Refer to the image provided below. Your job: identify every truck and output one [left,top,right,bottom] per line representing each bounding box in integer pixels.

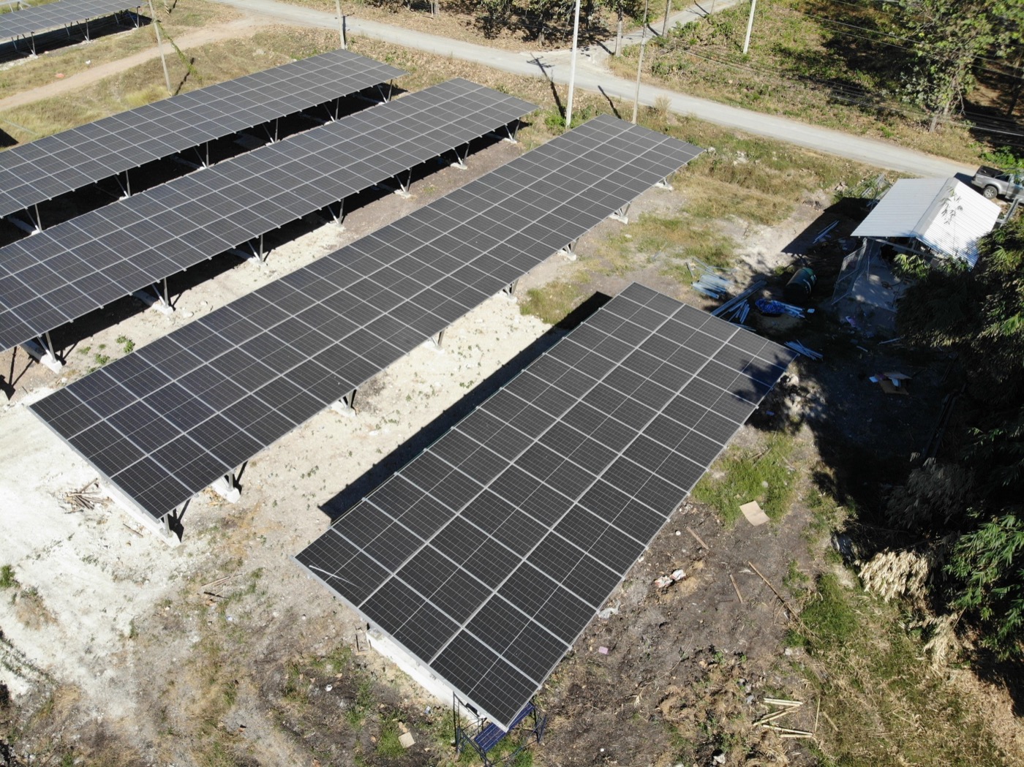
[969,161,1024,203]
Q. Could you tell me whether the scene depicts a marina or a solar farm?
solar farm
